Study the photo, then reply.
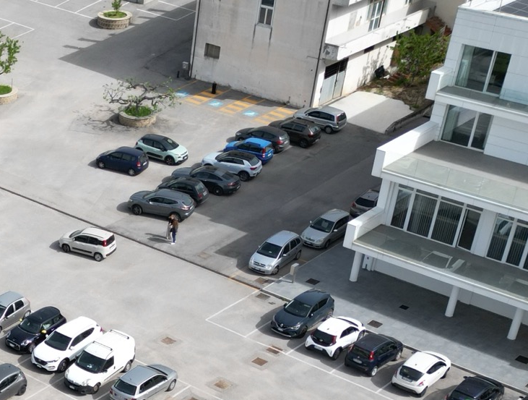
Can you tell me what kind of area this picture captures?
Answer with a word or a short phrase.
parking lot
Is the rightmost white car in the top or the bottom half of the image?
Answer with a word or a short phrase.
bottom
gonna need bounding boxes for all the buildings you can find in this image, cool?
[346,0,528,339]
[193,0,466,108]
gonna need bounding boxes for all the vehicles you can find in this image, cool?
[134,131,191,165]
[147,176,206,203]
[106,360,182,400]
[343,330,403,376]
[134,185,200,220]
[6,303,70,351]
[171,164,238,198]
[273,285,336,336]
[307,314,368,359]
[97,146,151,175]
[202,151,262,183]
[60,225,120,262]
[302,202,358,246]
[223,140,276,168]
[0,288,35,332]
[249,227,306,273]
[0,359,29,400]
[288,104,346,136]
[32,315,104,372]
[443,372,504,400]
[263,119,324,150]
[239,130,298,160]
[62,327,139,393]
[391,349,454,397]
